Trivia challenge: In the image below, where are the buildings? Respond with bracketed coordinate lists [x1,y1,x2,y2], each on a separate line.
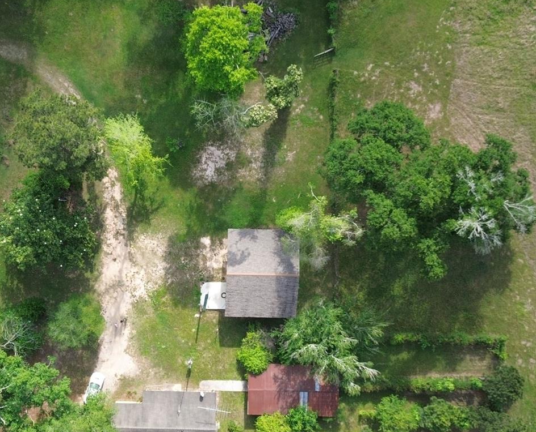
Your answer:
[246,364,338,417]
[225,229,299,317]
[106,389,217,432]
